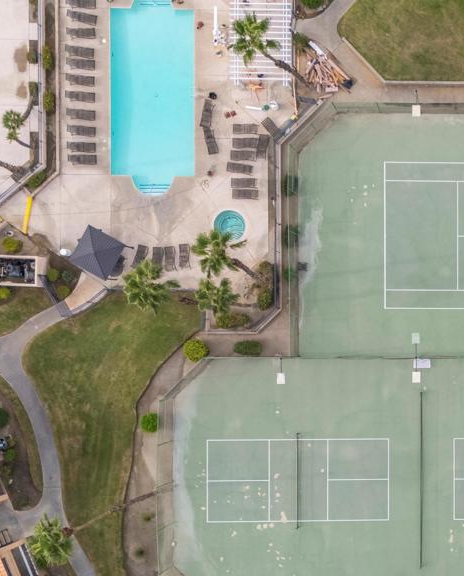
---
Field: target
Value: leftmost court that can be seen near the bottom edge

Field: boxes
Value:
[173,359,420,576]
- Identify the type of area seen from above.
sports ground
